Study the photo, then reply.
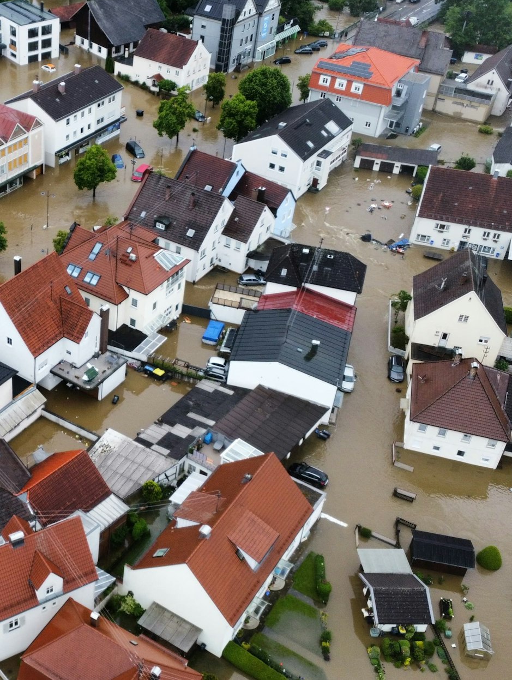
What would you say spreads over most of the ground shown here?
buildings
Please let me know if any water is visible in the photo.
Yes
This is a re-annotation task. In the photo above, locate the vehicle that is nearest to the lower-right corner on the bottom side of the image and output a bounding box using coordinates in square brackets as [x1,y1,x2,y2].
[287,462,333,493]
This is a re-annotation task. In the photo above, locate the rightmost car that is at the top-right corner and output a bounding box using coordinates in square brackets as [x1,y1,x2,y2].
[454,71,471,84]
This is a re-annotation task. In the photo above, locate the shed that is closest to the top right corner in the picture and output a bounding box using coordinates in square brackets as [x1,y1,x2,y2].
[462,36,498,65]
